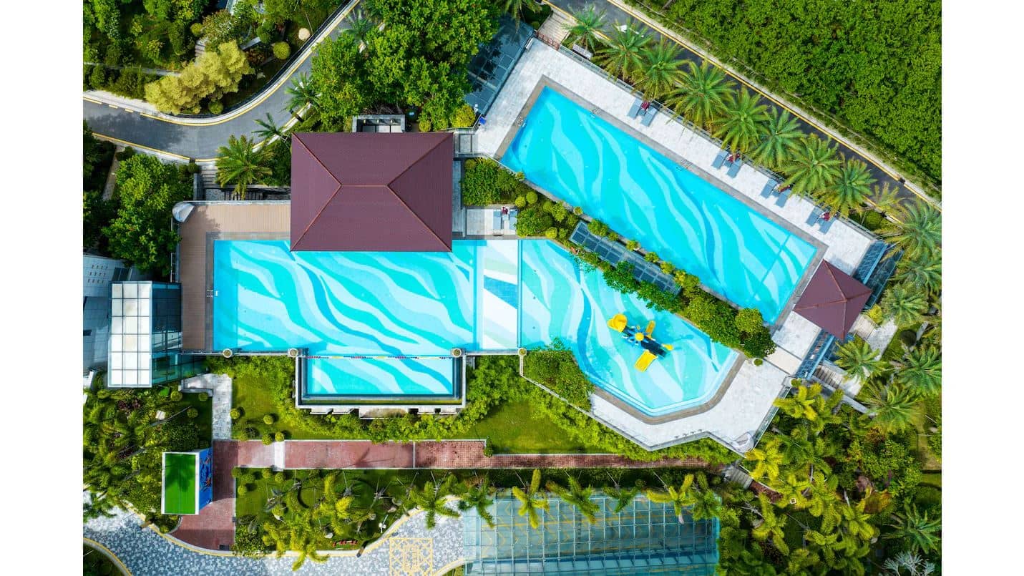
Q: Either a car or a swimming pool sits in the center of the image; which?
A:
swimming pool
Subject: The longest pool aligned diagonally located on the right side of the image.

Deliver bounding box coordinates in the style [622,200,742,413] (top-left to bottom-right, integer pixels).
[500,87,818,324]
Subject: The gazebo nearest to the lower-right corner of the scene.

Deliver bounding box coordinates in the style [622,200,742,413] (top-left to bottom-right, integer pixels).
[785,258,873,340]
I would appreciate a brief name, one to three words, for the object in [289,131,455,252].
building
